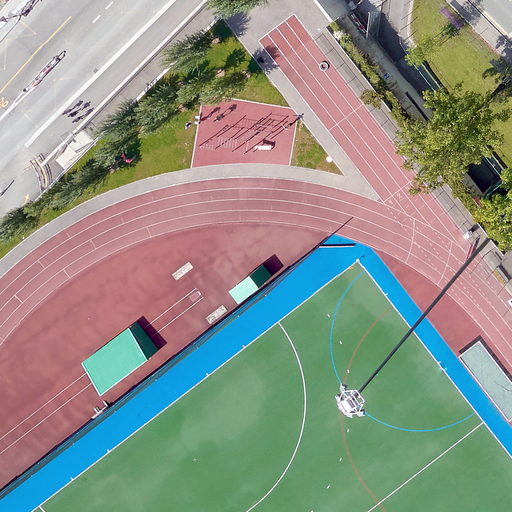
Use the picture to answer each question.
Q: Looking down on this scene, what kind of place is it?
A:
sports ground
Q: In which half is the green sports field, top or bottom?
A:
bottom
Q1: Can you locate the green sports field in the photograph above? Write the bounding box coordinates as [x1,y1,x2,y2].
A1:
[0,232,512,512]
